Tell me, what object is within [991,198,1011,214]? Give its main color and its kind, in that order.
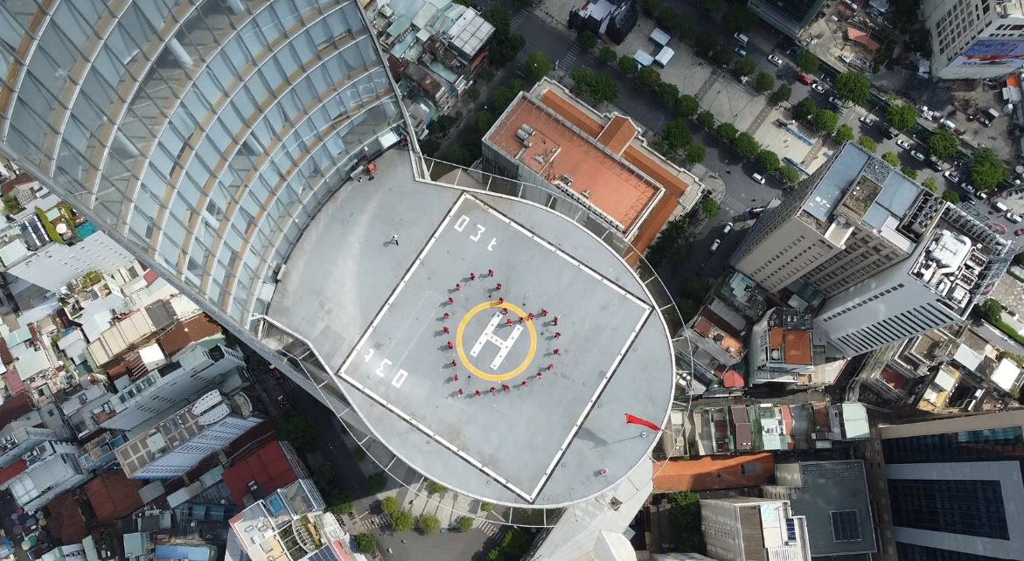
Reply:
white vehicle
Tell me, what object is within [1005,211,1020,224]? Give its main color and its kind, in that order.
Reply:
white vehicle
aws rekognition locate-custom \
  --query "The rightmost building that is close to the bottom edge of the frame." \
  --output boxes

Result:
[856,408,1024,561]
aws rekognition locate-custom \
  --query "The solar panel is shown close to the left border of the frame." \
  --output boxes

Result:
[21,214,47,248]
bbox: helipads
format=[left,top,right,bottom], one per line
[267,126,691,526]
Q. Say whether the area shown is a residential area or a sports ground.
residential area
